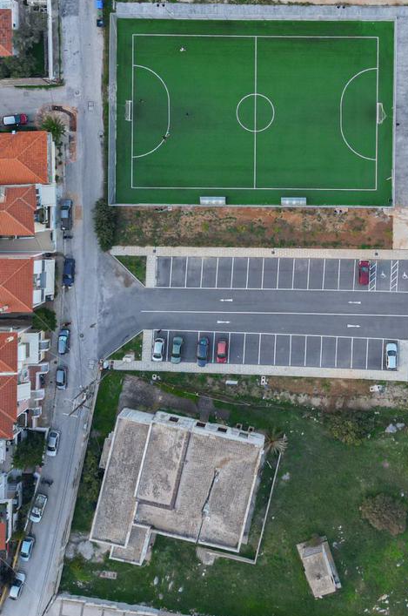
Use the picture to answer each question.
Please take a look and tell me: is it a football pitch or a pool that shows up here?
football pitch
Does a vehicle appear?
Yes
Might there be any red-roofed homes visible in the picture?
Yes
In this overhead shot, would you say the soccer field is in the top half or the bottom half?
top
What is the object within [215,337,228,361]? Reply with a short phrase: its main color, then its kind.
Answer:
red vehicle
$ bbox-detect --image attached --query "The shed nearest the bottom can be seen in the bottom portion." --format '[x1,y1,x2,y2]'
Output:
[296,534,342,596]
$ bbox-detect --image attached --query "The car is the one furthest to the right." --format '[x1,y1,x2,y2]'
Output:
[385,342,398,369]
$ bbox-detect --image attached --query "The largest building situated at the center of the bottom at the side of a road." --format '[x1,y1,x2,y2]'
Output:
[88,409,267,566]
